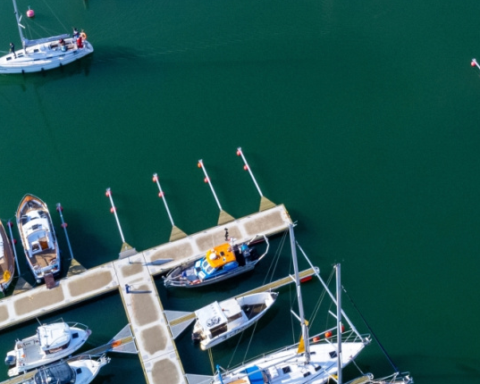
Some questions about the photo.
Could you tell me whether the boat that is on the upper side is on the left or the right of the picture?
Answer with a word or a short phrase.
left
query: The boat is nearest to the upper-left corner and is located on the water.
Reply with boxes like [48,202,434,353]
[0,0,94,74]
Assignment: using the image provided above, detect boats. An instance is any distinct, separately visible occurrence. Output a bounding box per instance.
[0,221,16,298]
[183,291,279,357]
[32,353,124,384]
[0,0,94,74]
[19,196,71,300]
[5,322,105,379]
[160,230,275,291]
[216,222,373,384]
